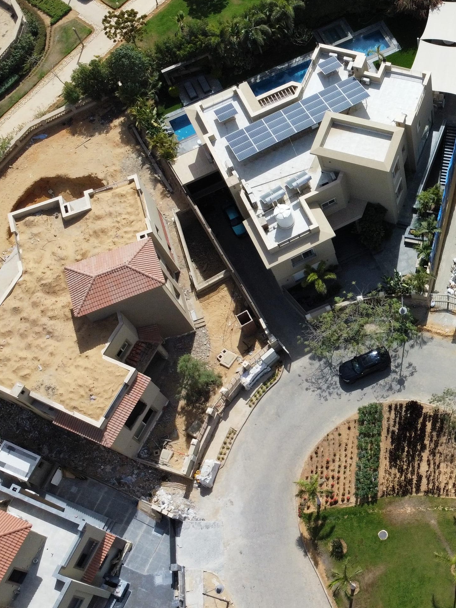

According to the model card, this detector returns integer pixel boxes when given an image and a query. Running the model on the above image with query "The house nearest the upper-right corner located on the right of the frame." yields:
[169,43,435,290]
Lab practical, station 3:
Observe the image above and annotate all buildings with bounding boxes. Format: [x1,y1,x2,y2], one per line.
[169,43,435,290]
[0,442,137,608]
[0,174,190,455]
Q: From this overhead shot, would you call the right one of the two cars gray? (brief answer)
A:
No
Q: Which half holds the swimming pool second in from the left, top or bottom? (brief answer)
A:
top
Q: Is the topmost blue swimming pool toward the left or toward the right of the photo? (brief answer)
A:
right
